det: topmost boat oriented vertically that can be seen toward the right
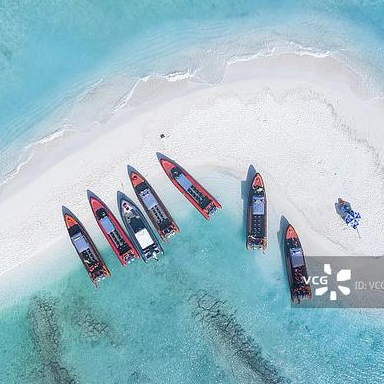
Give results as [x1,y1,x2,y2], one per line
[247,173,267,249]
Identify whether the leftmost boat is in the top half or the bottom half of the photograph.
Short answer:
bottom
